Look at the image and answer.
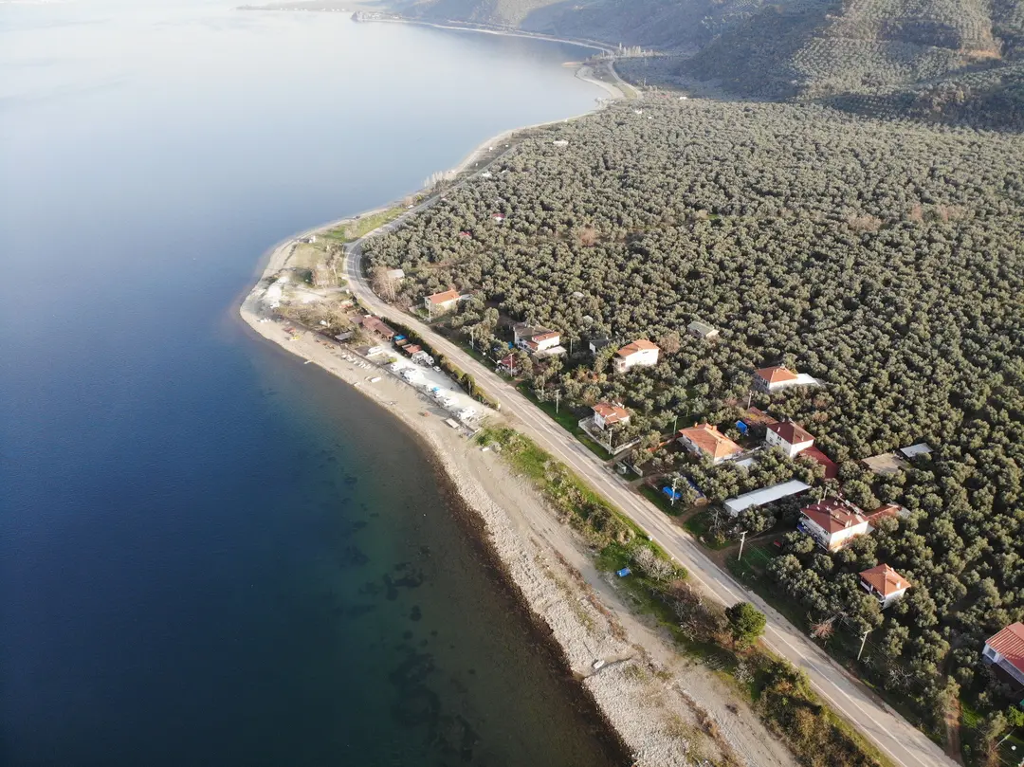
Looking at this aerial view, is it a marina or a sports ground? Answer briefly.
marina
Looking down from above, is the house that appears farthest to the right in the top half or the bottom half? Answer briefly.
bottom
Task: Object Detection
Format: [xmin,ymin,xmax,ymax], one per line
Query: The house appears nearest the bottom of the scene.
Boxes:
[979,628,1024,697]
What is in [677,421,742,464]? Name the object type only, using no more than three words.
house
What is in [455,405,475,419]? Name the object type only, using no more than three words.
camper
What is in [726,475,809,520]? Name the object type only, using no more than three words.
shed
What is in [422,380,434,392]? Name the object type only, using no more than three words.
vehicle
